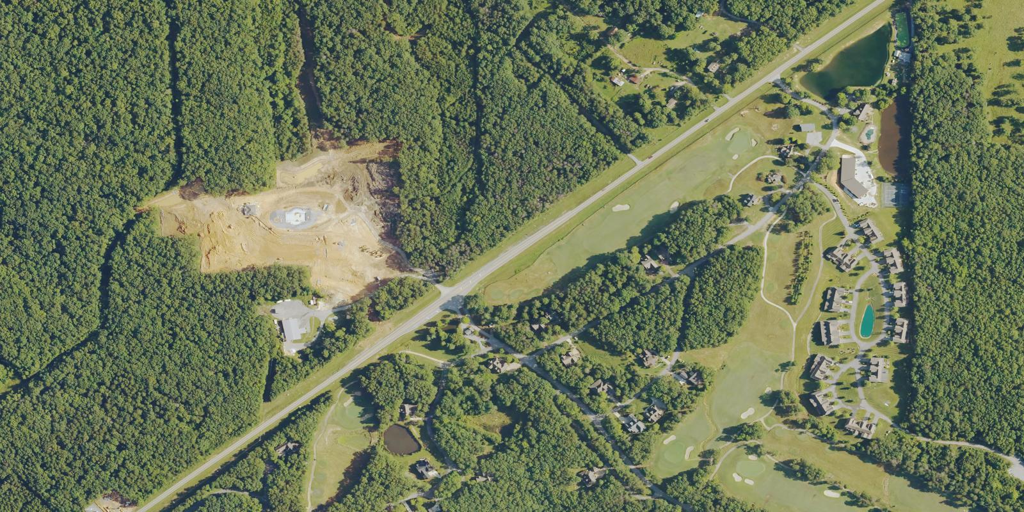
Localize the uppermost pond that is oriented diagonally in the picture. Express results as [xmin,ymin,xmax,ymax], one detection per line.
[800,22,891,97]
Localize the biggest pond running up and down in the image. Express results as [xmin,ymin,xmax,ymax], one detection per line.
[879,101,911,175]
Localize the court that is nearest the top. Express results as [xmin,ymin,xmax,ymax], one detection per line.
[882,183,909,207]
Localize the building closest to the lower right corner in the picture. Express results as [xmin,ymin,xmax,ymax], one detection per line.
[847,415,875,437]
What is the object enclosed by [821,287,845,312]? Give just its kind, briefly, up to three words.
house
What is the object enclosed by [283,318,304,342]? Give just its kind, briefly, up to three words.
building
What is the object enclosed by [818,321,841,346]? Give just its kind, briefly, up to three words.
house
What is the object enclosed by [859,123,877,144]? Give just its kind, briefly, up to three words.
swimming pool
